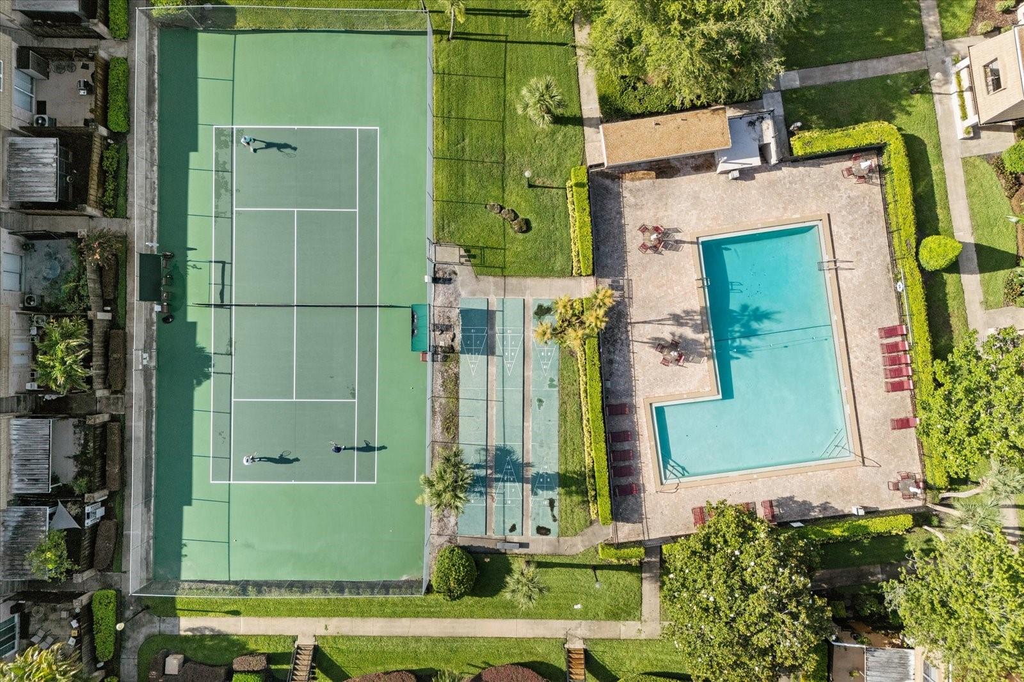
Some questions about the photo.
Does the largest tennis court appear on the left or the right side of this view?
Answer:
left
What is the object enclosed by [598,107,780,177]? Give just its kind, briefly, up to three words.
building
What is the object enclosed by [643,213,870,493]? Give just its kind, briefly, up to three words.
swimming pool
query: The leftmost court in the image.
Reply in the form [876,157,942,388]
[153,29,433,581]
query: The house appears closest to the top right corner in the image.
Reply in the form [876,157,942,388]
[959,21,1024,131]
